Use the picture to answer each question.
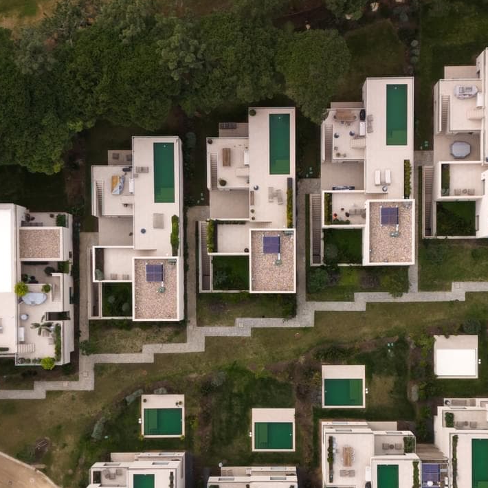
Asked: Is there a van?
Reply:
No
